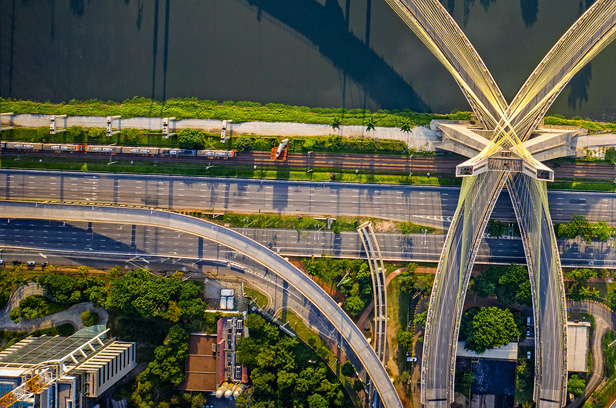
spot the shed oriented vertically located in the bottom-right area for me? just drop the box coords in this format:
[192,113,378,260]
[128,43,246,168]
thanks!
[567,319,591,371]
